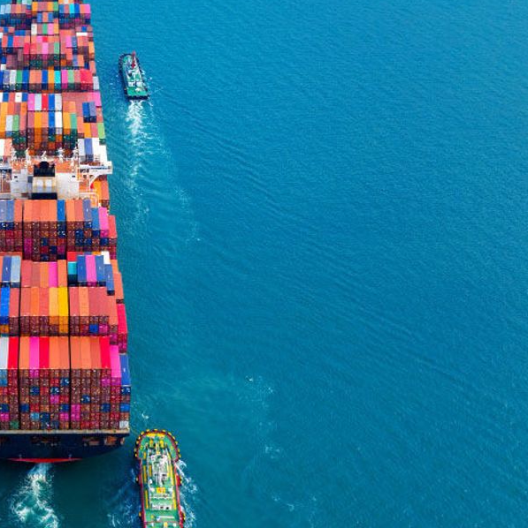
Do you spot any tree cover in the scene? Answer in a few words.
No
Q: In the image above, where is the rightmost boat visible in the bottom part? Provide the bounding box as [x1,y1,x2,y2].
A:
[135,427,188,528]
